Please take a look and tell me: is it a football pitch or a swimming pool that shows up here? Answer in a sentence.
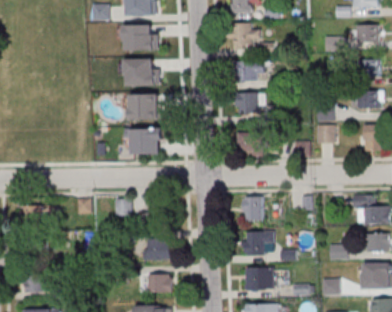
Visible in the photo is a swimming pool.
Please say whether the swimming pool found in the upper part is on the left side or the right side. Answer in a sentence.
You can find the swimming pool found in the upper part on the left side of the picture.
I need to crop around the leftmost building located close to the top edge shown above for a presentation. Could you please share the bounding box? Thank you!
[90,2,110,22]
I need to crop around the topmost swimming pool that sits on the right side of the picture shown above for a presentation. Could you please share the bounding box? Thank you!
[298,233,314,250]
